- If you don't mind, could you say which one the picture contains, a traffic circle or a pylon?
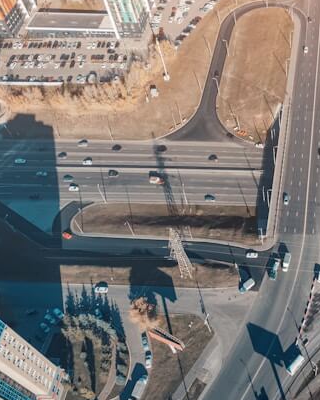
pylon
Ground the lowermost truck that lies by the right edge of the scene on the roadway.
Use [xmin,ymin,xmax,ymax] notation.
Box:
[282,352,306,375]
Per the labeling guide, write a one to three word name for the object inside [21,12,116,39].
building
